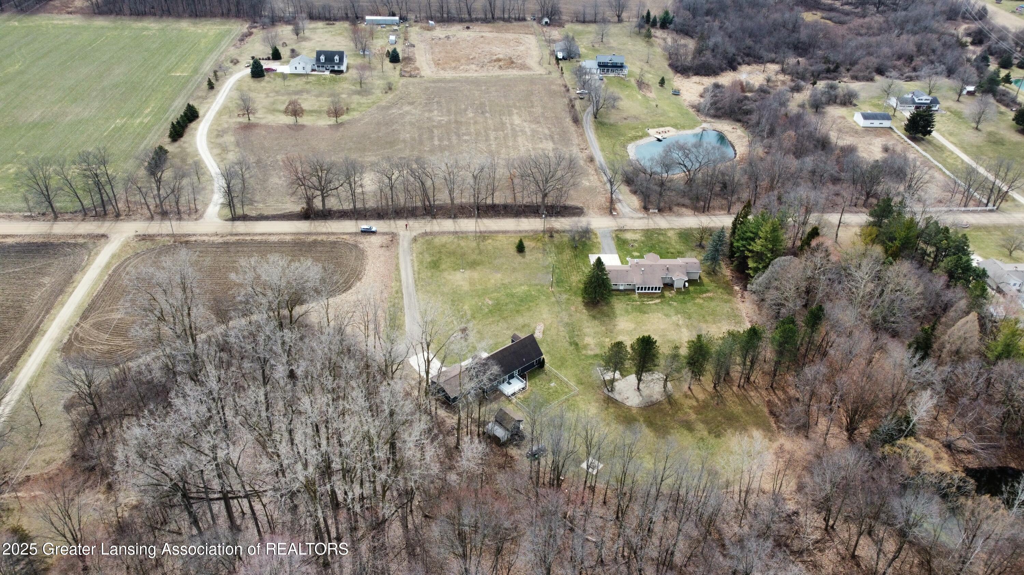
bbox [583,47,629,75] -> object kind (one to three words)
house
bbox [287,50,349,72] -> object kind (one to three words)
house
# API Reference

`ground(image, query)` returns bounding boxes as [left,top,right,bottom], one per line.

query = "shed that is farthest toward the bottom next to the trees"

[486,408,523,441]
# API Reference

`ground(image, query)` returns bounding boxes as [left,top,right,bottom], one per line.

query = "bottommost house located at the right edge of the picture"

[975,256,1024,300]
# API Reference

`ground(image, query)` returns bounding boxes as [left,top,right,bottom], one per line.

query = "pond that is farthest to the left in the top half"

[635,130,735,176]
